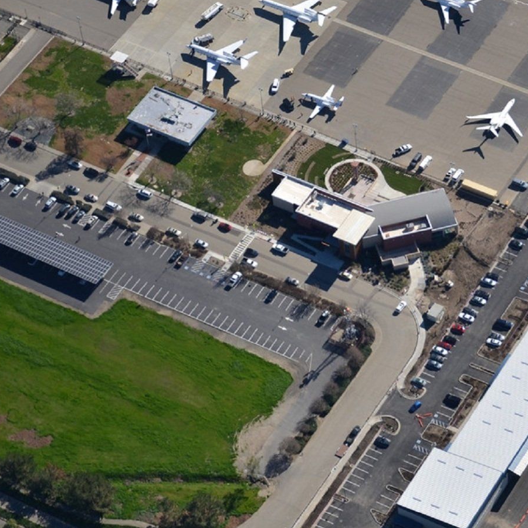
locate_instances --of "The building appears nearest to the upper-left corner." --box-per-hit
[128,86,217,146]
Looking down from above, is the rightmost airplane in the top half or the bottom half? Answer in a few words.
top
